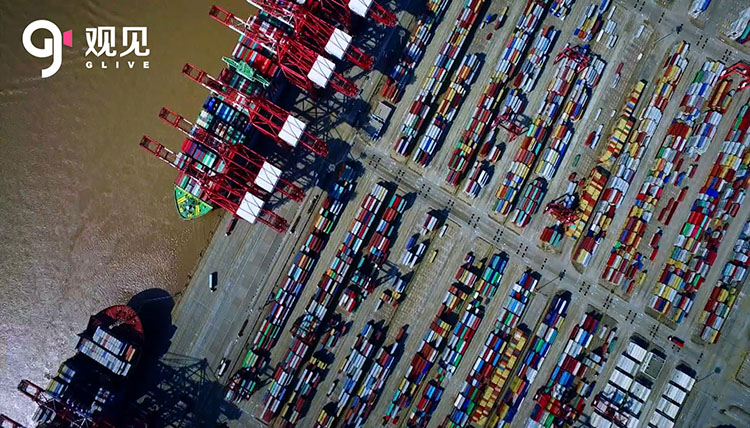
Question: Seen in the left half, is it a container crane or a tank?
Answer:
container crane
